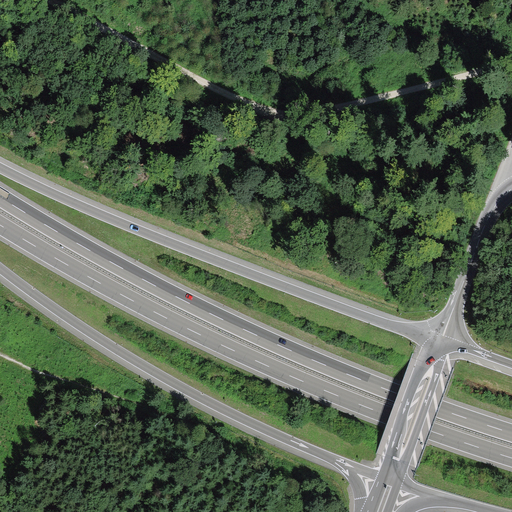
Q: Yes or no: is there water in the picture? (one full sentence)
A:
No, no water is visible.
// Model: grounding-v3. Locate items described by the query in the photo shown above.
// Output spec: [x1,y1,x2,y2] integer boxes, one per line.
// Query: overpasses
[375,346,456,476]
